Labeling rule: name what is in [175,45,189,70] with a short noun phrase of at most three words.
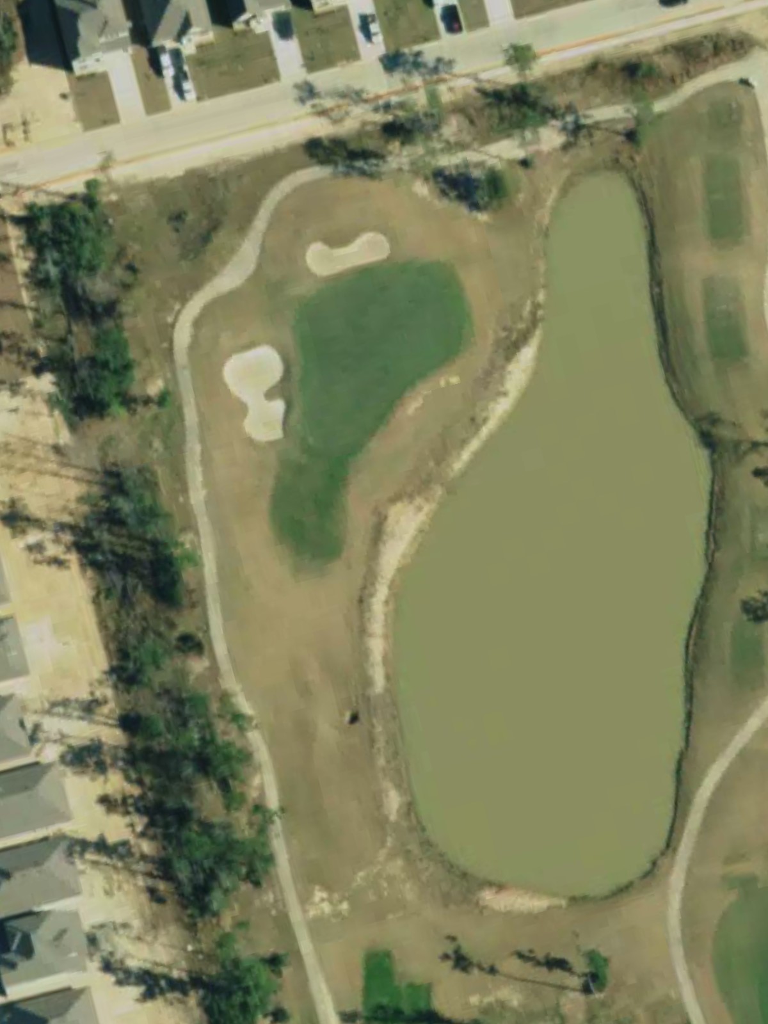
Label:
car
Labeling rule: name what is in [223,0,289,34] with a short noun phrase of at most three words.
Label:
house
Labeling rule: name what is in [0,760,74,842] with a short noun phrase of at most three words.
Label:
house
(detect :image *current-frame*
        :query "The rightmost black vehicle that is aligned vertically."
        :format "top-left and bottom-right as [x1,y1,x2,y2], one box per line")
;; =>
[446,5,460,30]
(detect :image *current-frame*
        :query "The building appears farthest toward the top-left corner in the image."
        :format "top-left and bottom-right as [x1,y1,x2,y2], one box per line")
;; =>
[54,0,132,74]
